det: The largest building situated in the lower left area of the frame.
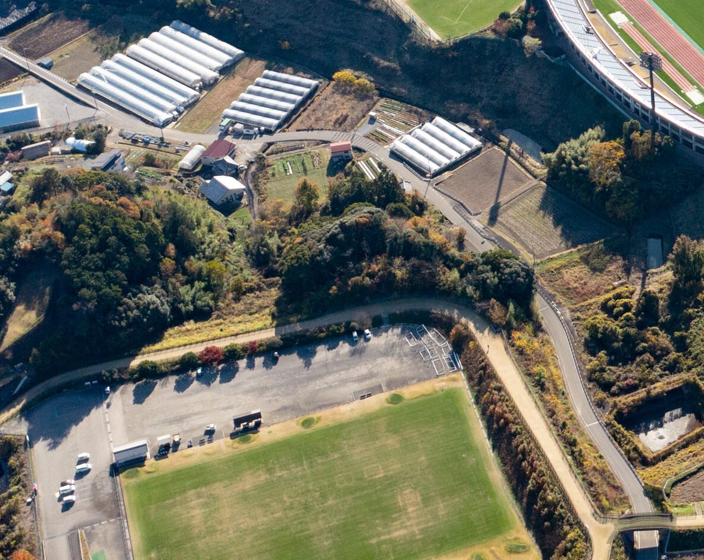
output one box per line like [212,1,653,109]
[112,443,148,472]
